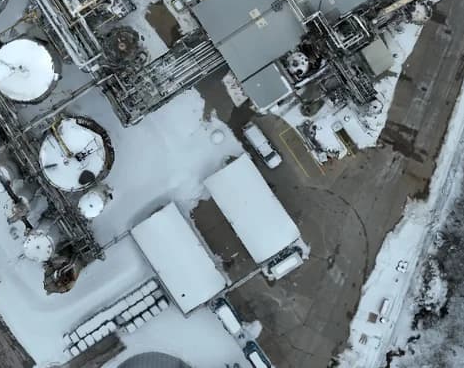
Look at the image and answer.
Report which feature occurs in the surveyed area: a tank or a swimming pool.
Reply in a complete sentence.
This aerial view contains a tank.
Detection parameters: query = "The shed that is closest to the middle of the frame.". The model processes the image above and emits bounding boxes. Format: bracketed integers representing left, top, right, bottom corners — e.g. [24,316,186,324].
[203,151,300,265]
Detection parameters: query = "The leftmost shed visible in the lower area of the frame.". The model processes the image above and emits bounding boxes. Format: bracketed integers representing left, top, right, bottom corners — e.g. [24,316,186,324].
[131,200,227,314]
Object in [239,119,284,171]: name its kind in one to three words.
truck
